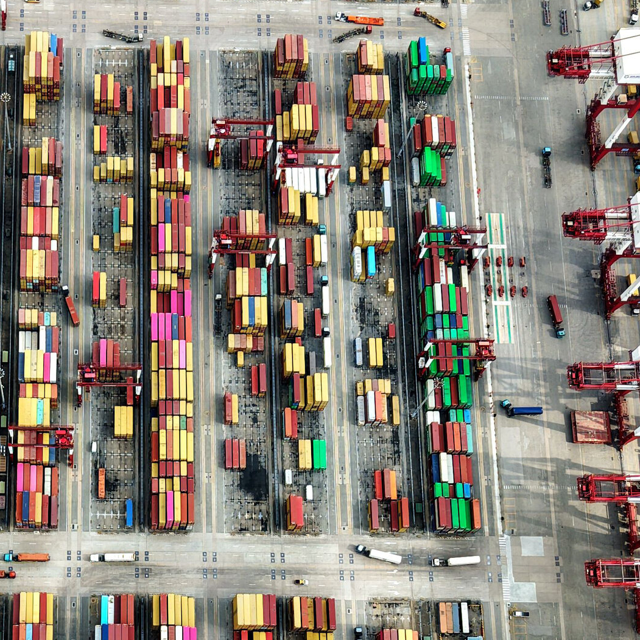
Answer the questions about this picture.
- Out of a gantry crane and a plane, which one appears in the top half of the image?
gantry crane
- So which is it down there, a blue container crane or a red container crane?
red container crane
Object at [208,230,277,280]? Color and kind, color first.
red container crane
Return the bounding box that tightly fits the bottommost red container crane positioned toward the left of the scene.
[7,423,74,468]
